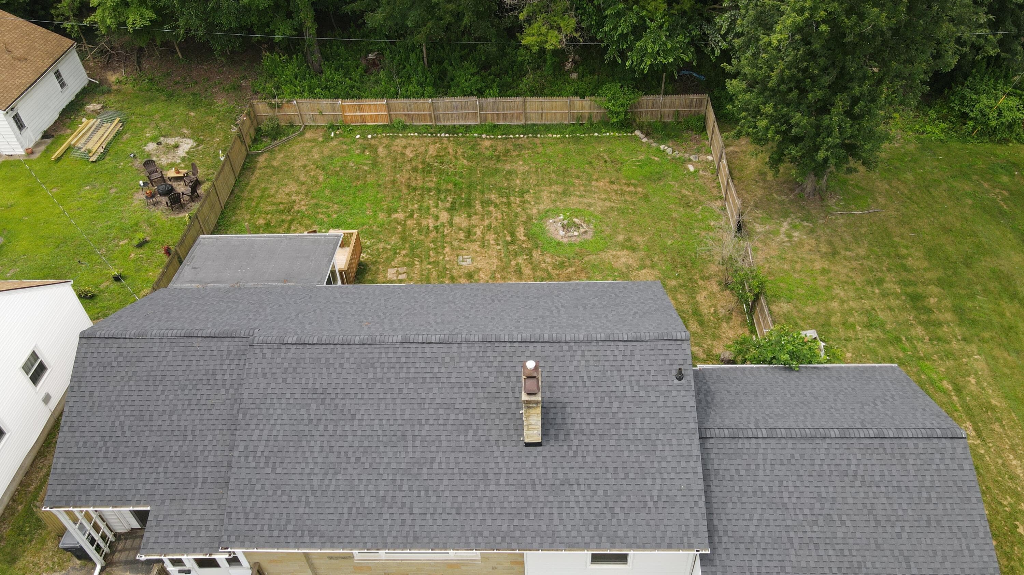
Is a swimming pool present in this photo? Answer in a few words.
No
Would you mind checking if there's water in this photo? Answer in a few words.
No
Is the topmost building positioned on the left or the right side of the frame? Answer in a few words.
left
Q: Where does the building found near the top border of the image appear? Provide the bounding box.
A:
[0,7,105,154]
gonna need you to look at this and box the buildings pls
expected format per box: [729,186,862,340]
[0,7,105,154]
[41,229,1000,575]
